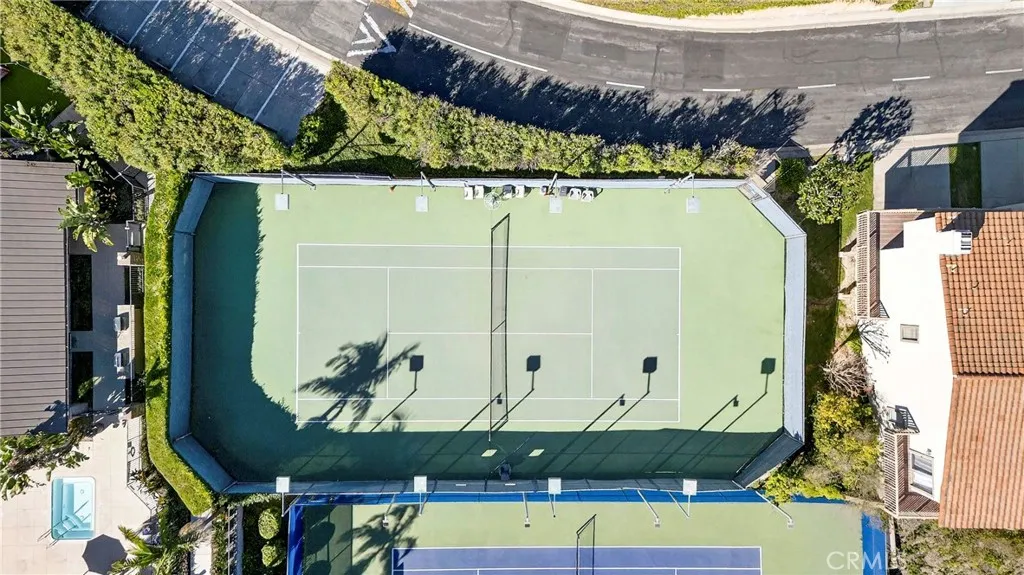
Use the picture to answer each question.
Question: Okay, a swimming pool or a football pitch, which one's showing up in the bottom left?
swimming pool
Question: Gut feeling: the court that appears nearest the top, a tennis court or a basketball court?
tennis court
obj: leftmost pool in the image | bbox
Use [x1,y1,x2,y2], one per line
[51,476,96,541]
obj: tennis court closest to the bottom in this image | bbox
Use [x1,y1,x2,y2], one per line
[306,503,861,575]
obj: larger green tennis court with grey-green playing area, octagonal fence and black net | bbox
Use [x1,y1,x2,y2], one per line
[197,186,785,477]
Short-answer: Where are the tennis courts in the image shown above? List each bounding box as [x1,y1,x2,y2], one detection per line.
[306,503,861,575]
[197,186,785,477]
